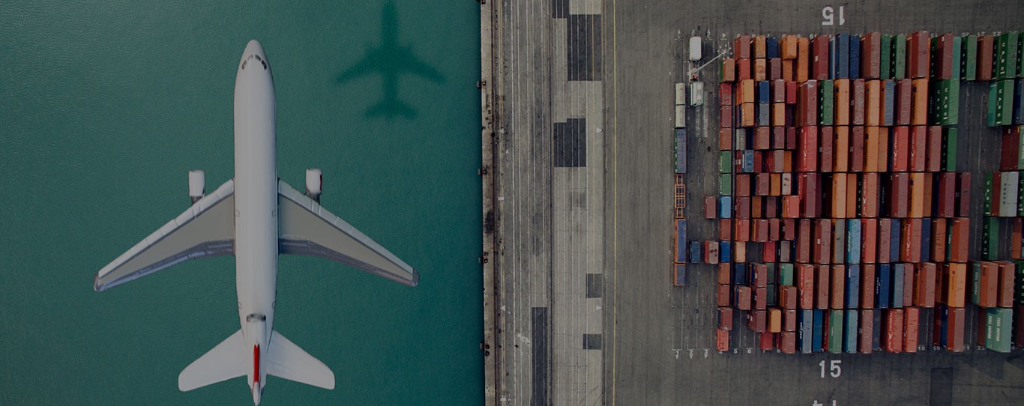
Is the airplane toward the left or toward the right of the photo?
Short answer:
left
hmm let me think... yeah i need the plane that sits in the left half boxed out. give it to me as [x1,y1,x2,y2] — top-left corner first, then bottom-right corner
[94,38,419,406]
